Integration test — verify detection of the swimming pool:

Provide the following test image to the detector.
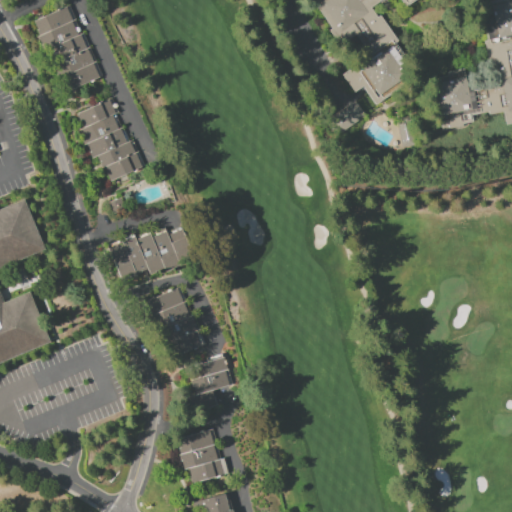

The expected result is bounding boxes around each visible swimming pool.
[136,186,163,204]
[366,118,394,146]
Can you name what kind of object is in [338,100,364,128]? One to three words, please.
house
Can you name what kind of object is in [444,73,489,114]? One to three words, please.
house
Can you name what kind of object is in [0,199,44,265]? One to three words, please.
building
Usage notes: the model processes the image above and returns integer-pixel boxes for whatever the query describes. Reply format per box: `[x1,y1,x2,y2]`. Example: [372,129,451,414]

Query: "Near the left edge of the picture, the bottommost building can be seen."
[0,292,50,364]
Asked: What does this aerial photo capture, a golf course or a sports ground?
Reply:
golf course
